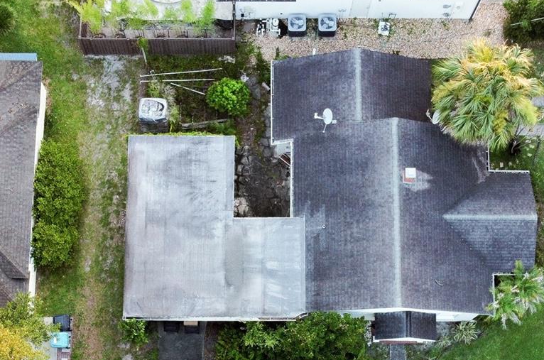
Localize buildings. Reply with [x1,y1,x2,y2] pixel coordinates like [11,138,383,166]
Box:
[0,52,48,318]
[123,48,537,349]
[218,0,485,22]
